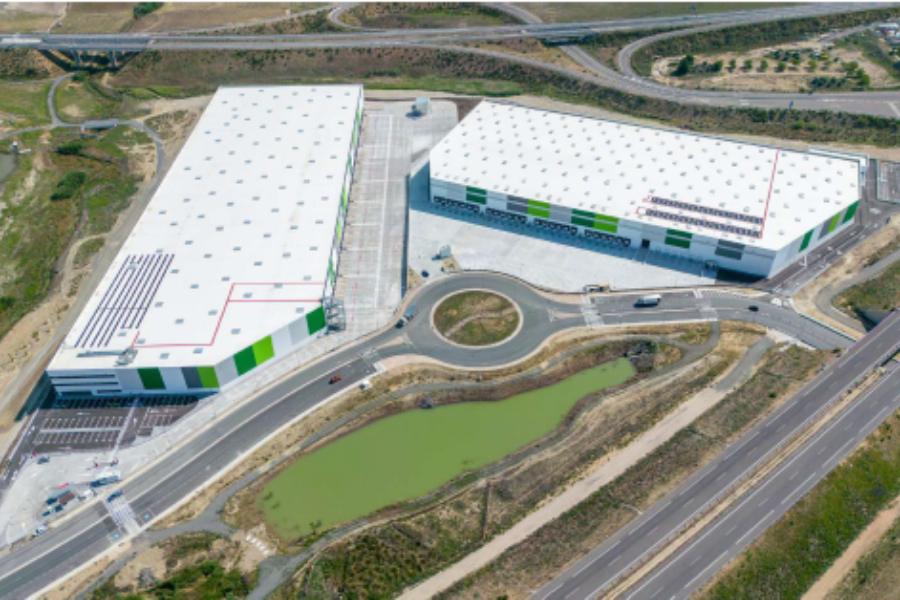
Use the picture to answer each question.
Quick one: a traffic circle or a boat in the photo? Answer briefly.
traffic circle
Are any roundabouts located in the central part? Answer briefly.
Yes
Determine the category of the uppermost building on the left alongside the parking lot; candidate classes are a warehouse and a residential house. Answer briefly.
warehouse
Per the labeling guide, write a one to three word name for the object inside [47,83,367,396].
warehouse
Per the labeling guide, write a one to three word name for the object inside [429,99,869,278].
warehouse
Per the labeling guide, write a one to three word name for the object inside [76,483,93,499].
vehicle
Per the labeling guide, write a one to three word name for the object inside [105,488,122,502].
vehicle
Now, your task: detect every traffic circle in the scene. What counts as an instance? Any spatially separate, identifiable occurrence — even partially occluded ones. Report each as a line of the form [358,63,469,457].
[371,275,560,369]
